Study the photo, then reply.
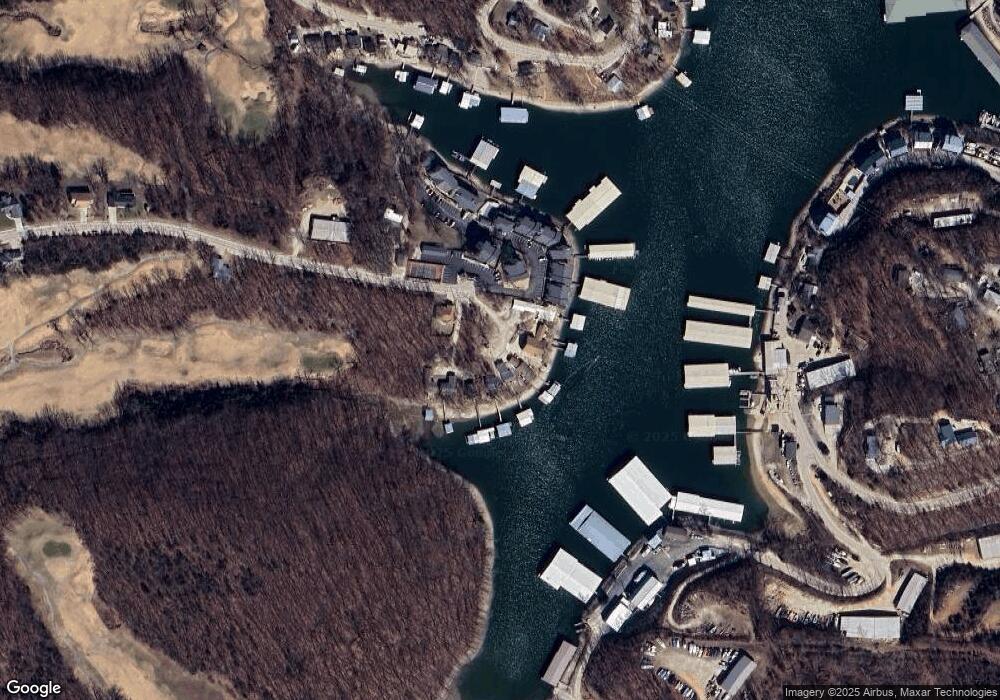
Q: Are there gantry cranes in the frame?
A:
No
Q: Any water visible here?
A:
Yes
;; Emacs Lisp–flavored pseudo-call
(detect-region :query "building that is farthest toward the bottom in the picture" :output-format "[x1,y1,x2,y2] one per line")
[720,655,758,699]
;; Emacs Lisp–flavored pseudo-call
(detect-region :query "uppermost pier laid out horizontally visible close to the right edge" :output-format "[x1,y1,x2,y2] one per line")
[885,0,967,22]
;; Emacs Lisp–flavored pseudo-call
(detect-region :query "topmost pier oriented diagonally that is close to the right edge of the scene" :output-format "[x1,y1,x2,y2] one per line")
[961,19,1000,84]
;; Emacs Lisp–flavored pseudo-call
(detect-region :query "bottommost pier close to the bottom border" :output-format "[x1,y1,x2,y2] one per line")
[542,639,577,686]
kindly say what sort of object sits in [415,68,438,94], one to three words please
pier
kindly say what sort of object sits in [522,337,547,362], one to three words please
house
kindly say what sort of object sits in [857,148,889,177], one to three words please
building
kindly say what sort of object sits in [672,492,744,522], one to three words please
pier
